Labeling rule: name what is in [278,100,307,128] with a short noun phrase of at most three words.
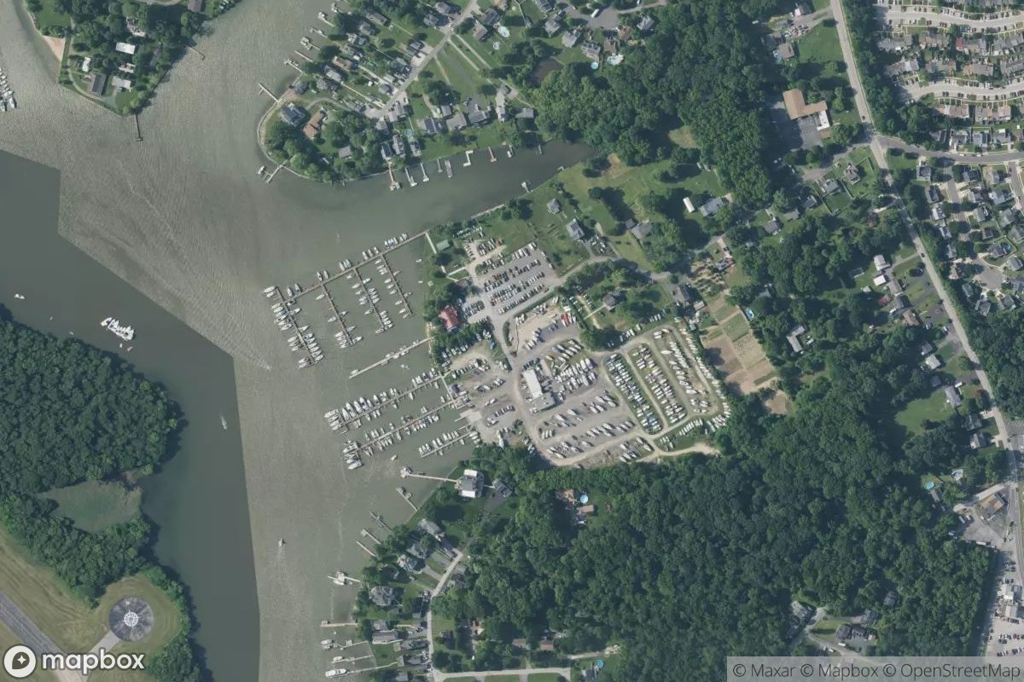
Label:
house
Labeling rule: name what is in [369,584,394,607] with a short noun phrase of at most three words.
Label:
house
